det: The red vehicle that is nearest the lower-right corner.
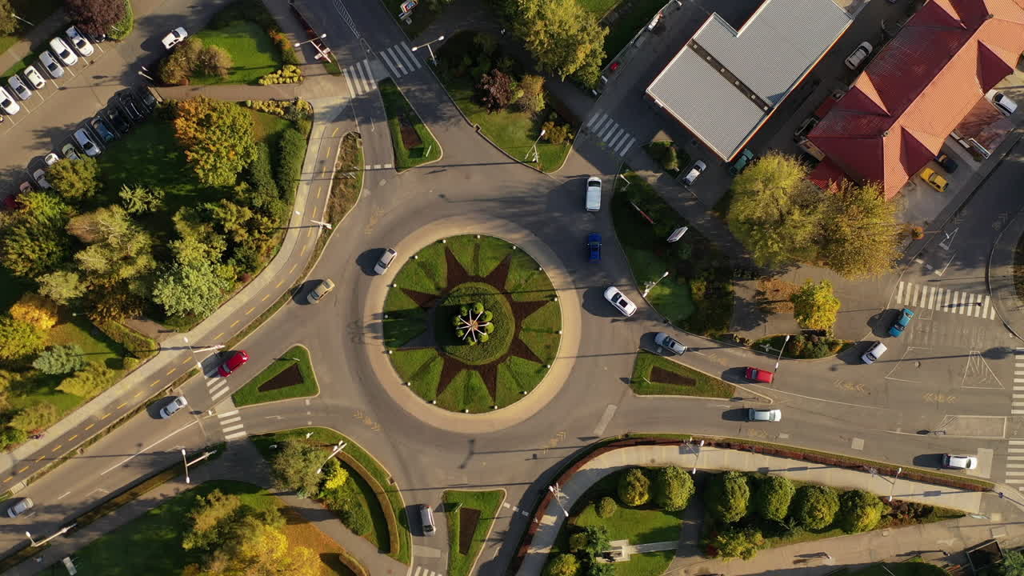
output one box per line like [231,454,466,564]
[744,365,775,383]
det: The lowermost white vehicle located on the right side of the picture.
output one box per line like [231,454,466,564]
[941,453,976,471]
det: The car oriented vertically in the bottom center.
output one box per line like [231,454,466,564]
[420,504,436,537]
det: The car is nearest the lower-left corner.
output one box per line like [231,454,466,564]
[6,495,36,518]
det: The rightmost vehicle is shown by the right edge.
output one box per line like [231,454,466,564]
[983,88,1019,117]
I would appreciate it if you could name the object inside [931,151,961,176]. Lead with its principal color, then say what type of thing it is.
black car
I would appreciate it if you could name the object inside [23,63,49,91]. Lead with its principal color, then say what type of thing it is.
white car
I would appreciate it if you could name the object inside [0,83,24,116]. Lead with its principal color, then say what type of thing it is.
white car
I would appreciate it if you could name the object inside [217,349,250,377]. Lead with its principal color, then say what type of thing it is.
red car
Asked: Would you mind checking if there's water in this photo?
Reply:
No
